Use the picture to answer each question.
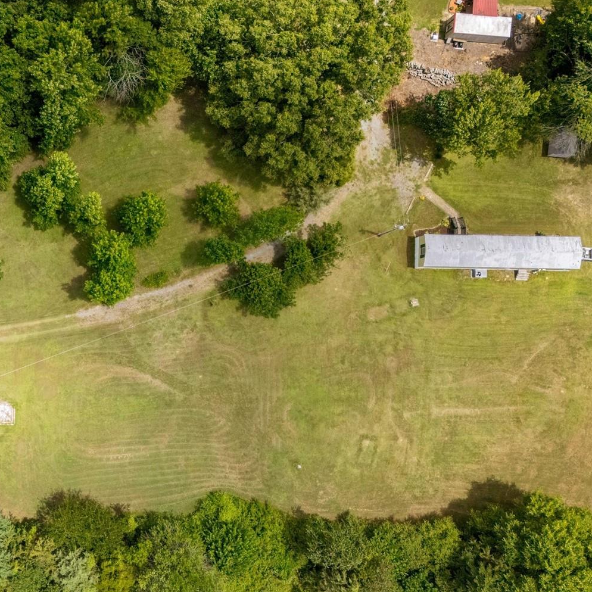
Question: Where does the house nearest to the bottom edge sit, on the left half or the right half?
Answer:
right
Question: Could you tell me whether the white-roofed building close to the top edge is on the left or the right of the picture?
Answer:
right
